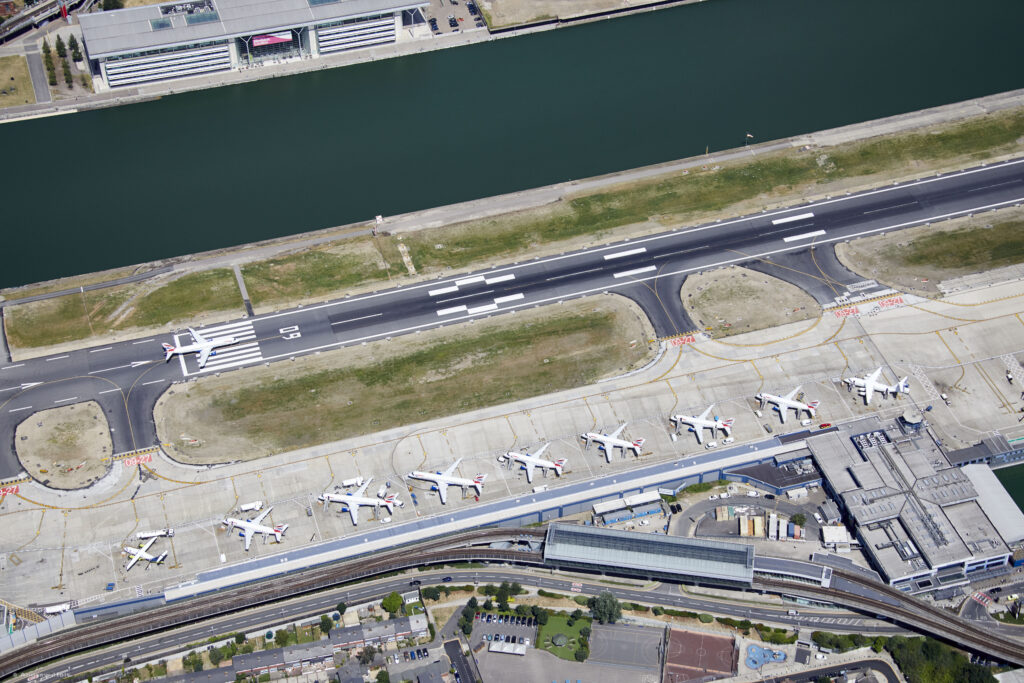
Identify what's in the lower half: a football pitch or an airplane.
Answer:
airplane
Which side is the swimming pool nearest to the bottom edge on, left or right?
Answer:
right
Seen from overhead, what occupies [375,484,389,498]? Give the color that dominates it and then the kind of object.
white vehicle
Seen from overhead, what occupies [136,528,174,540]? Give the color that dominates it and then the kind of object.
white vehicle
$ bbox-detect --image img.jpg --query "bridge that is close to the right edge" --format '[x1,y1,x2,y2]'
[750,553,1024,669]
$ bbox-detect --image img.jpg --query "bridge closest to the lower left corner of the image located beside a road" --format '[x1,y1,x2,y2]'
[0,526,548,678]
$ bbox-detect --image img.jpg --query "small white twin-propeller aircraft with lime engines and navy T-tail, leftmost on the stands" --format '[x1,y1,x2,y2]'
[122,532,169,571]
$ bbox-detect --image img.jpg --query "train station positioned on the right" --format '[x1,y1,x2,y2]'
[538,523,756,600]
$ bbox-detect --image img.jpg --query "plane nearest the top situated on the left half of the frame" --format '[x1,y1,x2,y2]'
[162,323,241,366]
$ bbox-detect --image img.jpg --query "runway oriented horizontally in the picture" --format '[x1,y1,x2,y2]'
[0,157,1024,420]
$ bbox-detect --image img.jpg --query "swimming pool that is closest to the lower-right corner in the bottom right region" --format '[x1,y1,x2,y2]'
[745,644,787,670]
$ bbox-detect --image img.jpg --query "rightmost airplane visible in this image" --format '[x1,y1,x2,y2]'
[843,364,913,403]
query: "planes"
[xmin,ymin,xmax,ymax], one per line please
[406,457,488,504]
[122,532,169,571]
[843,364,913,403]
[317,477,398,525]
[755,382,821,422]
[162,323,241,366]
[503,440,570,481]
[579,420,646,461]
[669,400,736,441]
[221,505,288,548]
